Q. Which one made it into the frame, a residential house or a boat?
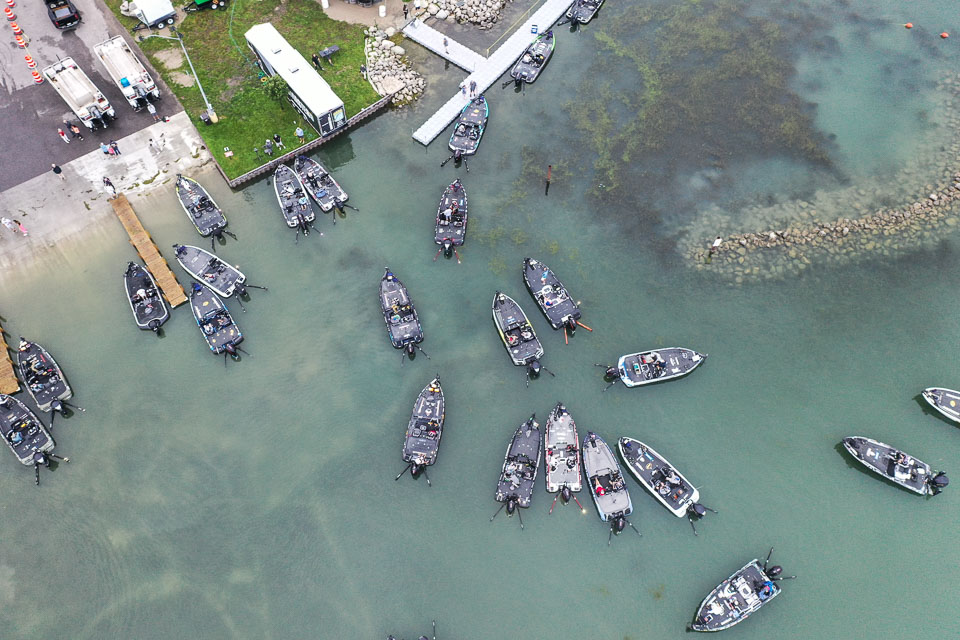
boat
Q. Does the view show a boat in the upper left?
Yes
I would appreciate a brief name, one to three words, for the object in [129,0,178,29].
trailer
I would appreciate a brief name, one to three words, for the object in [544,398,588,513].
boat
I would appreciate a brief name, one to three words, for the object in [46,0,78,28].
truck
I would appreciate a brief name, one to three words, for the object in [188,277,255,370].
boat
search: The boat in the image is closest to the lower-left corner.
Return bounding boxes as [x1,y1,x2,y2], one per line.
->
[0,390,69,482]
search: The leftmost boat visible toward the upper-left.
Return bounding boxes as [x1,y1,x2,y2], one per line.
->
[40,51,117,134]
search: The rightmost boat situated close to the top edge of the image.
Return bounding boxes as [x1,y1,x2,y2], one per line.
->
[557,0,608,35]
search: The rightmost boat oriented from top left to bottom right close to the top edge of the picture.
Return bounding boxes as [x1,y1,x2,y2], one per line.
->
[92,28,164,114]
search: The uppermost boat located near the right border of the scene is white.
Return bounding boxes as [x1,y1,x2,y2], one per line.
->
[922,386,960,426]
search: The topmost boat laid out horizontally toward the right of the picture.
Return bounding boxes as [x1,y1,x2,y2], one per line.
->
[598,345,712,392]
